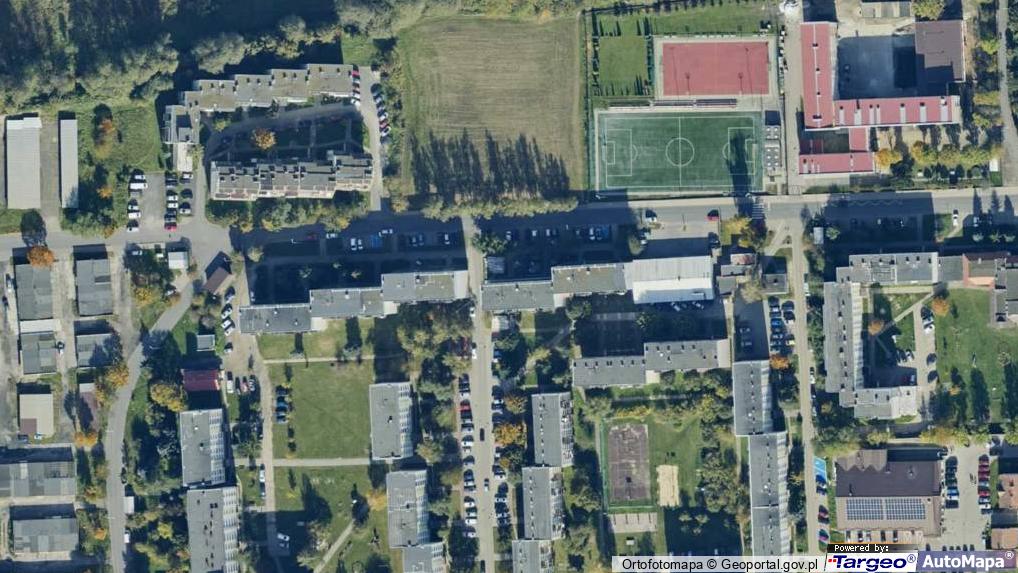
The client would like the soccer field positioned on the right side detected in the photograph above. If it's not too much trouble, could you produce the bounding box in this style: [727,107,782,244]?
[594,103,764,197]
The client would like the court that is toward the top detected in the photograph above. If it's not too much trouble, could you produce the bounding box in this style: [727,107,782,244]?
[653,35,778,98]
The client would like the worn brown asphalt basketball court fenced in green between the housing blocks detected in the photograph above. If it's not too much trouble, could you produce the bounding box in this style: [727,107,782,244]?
[604,419,656,507]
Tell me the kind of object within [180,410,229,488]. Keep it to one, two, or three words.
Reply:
building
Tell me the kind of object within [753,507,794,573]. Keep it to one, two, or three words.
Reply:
building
